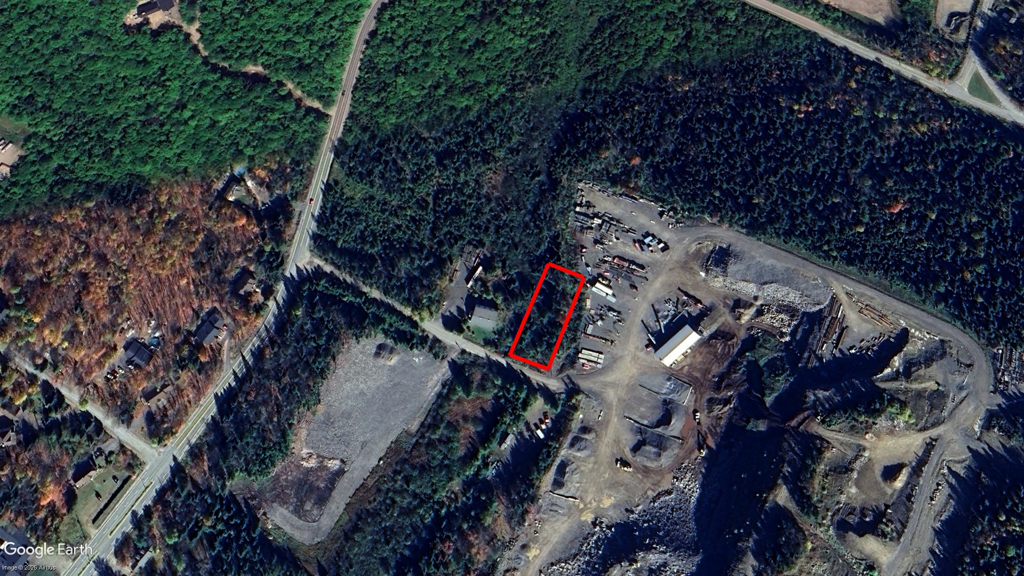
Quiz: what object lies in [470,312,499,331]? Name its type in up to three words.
house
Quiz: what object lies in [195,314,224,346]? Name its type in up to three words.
house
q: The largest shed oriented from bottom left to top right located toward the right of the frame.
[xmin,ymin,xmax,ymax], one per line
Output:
[656,325,702,367]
